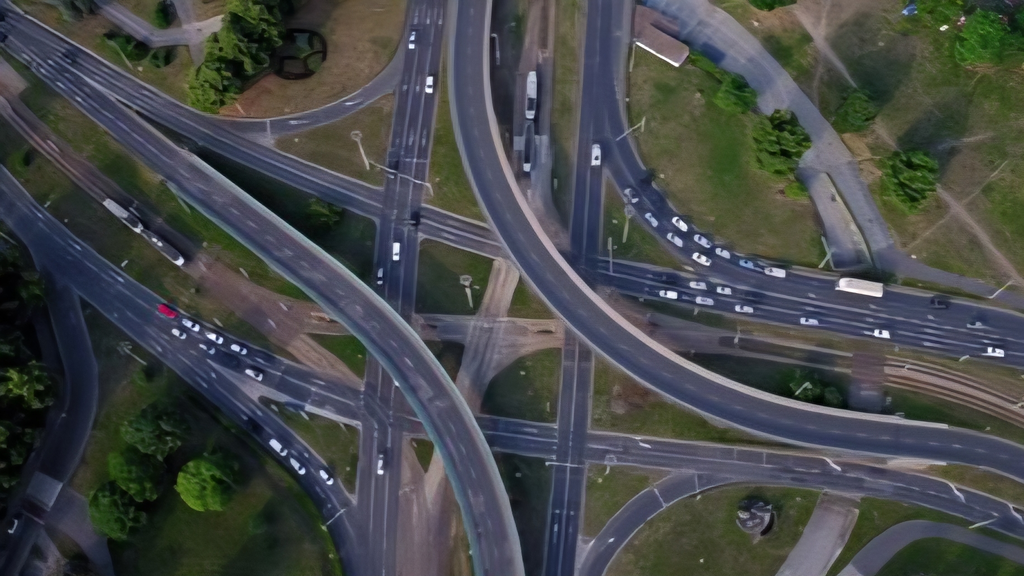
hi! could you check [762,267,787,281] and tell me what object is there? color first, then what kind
white vehicle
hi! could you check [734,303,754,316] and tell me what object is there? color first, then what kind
white vehicle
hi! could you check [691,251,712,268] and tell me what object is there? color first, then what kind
white car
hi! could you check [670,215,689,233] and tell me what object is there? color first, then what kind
white car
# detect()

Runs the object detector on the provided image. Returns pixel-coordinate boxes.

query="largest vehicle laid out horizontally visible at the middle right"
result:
[836,279,884,298]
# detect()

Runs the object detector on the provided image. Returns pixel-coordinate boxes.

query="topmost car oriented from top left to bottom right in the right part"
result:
[624,187,641,205]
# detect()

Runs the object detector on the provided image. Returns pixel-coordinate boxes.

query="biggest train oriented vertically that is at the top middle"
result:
[522,74,537,174]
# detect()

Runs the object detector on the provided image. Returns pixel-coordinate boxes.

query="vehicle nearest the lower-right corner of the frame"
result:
[985,345,1006,360]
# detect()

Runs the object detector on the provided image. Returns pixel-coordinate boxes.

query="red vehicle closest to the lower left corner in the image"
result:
[156,302,178,320]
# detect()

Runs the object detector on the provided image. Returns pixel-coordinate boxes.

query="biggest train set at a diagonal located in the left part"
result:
[105,199,186,267]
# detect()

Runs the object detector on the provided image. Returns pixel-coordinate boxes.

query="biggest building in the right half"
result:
[635,5,688,69]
